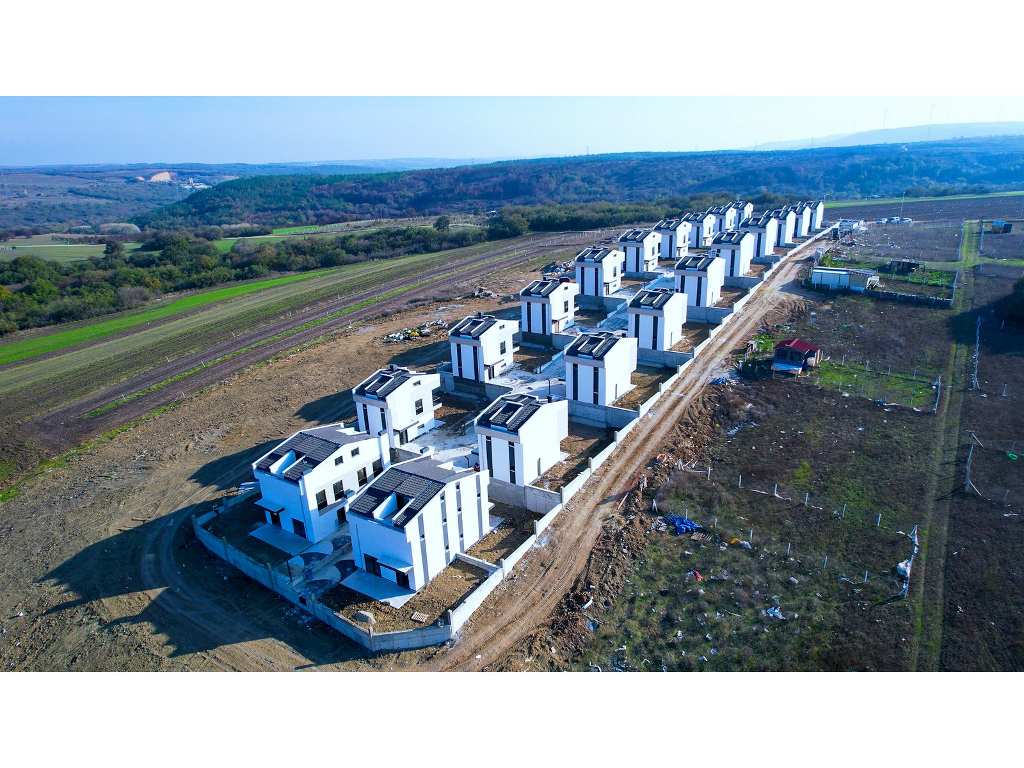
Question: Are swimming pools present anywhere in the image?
No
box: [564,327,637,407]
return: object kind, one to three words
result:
house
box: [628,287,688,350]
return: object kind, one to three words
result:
house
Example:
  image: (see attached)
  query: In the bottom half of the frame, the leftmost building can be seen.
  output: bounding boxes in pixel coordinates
[255,424,393,539]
